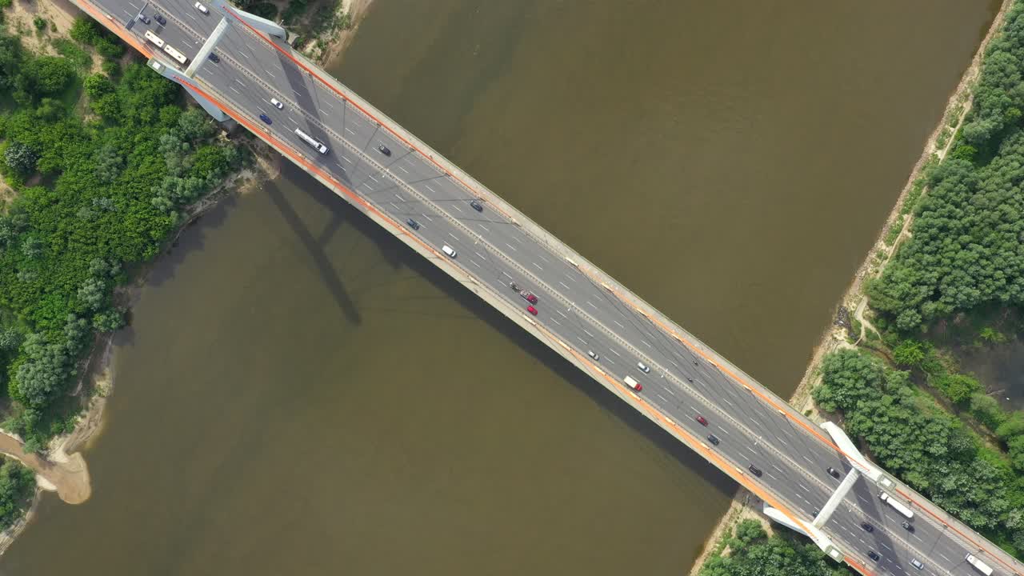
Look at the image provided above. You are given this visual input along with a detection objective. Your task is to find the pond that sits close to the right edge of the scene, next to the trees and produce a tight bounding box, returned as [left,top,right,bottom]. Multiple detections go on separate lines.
[962,341,1024,413]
